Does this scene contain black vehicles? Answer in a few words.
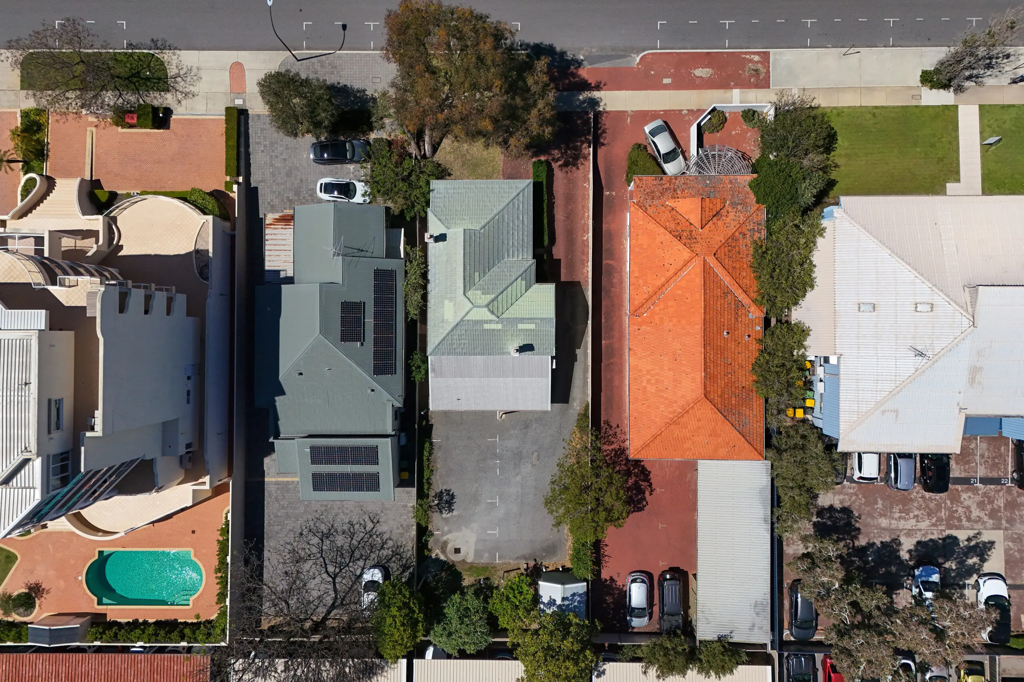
Yes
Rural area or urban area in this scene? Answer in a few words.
urban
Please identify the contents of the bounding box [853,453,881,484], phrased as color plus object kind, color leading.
white car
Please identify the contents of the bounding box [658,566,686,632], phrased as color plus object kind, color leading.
black car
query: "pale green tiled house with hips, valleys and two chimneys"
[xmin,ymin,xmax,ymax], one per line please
[425,179,556,411]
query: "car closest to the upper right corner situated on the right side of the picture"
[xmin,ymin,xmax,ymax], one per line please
[644,119,683,174]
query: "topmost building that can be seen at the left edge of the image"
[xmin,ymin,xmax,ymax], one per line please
[0,172,230,541]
